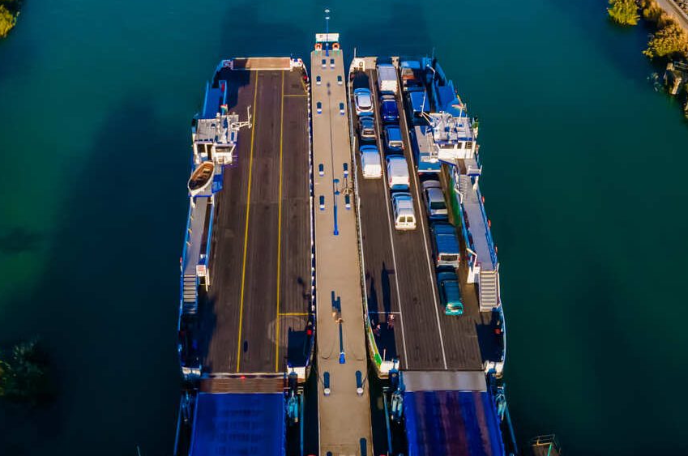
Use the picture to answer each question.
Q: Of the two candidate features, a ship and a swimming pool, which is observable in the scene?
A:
ship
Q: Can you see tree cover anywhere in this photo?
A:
No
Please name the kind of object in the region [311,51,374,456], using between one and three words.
pier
